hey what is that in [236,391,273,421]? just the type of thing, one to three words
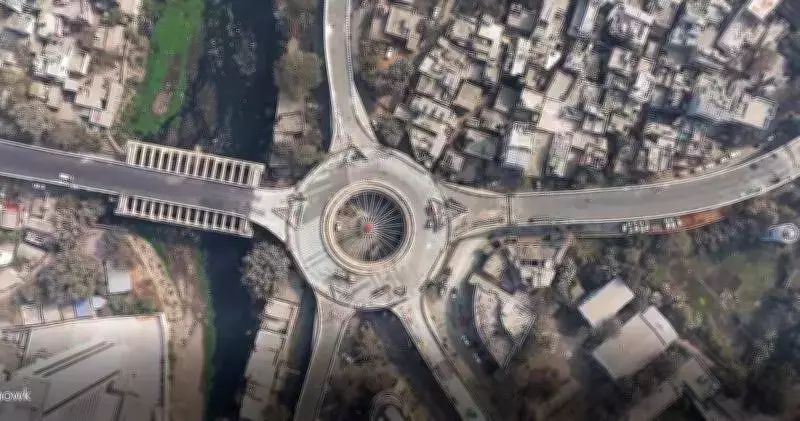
shed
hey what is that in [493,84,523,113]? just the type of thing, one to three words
house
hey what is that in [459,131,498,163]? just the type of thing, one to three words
house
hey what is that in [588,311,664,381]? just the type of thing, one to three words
building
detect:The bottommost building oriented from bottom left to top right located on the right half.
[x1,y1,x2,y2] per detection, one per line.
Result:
[619,378,685,421]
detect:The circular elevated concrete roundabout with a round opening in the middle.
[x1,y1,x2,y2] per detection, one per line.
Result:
[286,145,450,310]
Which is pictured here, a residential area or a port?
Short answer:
residential area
